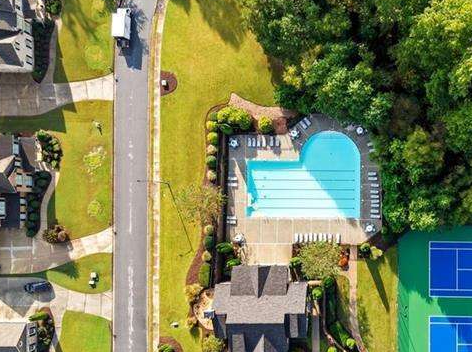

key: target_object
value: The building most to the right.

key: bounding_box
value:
[211,270,309,352]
